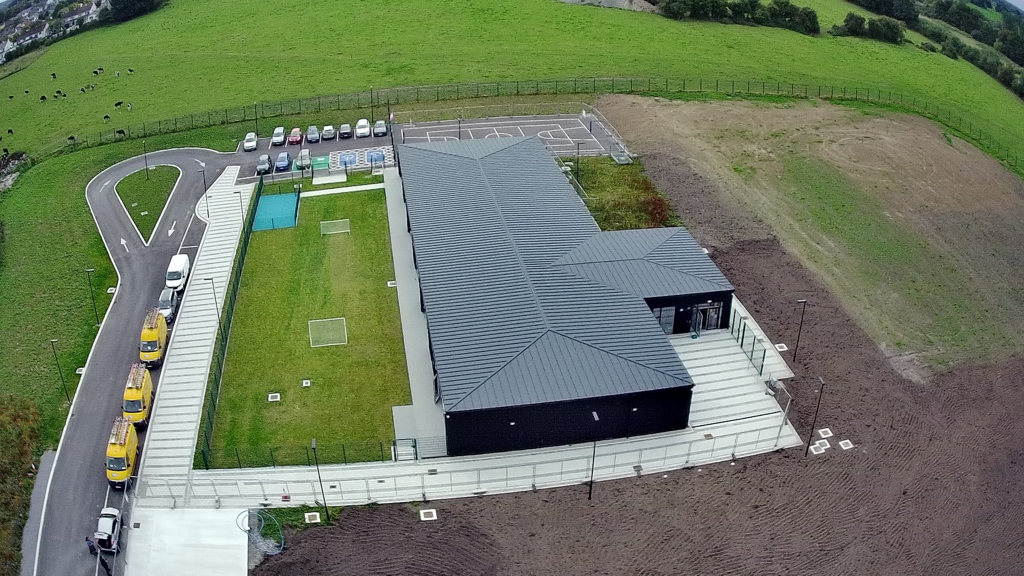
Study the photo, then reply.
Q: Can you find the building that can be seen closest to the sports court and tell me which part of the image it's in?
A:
center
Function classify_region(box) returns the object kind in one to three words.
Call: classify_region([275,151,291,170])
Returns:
car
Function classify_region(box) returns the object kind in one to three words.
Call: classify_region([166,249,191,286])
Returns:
vehicle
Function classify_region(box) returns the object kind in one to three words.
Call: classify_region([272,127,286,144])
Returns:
car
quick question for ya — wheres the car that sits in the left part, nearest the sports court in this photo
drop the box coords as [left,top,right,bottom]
[372,119,387,135]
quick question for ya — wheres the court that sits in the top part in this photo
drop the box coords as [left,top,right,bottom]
[393,114,623,169]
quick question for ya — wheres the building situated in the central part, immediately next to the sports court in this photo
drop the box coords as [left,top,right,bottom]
[399,136,734,456]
